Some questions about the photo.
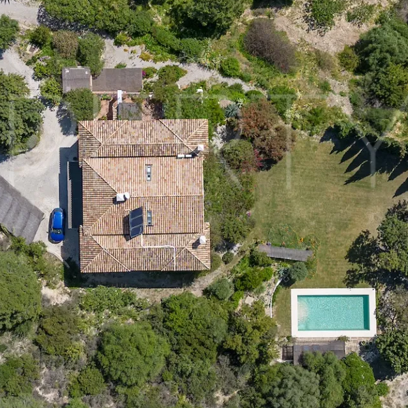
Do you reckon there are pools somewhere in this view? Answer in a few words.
Yes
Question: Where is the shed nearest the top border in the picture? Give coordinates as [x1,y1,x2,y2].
[62,67,154,103]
